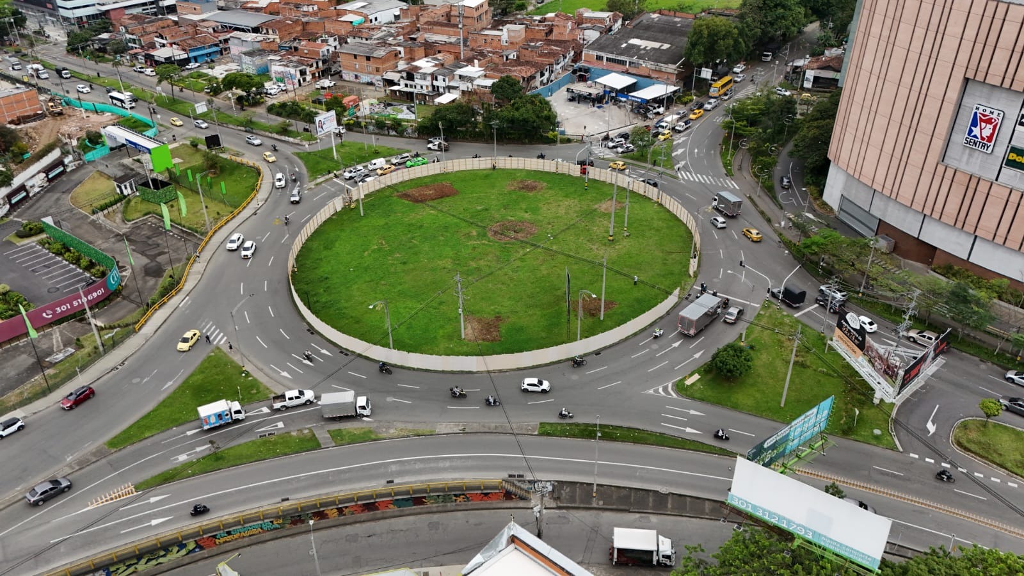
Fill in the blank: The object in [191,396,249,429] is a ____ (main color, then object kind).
white truck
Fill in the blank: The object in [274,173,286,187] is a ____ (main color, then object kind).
white vehicle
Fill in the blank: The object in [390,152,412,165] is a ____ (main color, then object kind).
gray vehicle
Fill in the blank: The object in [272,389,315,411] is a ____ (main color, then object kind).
white truck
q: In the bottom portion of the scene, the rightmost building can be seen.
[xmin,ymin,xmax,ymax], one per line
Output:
[457,512,591,576]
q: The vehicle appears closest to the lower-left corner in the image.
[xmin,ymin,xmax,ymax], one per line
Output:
[25,478,73,508]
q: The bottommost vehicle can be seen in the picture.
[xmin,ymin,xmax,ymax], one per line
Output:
[607,526,676,563]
